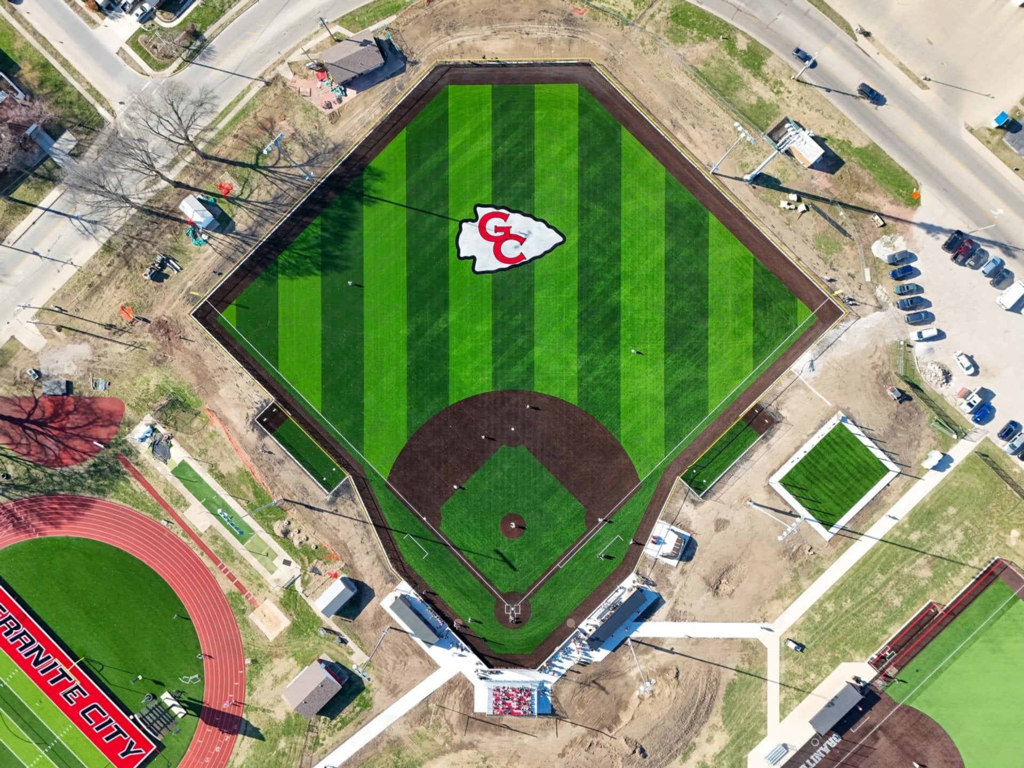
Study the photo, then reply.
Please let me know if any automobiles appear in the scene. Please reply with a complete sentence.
Yes, the image includes an automobile.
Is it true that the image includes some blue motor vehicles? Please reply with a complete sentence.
Yes, I can see a blue motor vehicle in this picture.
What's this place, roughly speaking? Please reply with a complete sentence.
What you see here is a sports ground.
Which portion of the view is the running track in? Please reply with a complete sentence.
You can find the running track in the bottom left area of the picture.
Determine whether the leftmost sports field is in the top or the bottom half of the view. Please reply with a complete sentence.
Seen from above, the leftmost sports field lies in the bottom half of the view.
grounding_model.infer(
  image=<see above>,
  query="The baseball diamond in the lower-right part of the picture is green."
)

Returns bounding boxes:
[785,557,1024,768]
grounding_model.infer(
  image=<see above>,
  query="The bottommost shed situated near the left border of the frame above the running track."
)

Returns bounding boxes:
[43,379,70,395]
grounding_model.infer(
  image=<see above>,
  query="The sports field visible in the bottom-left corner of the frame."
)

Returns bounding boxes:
[0,533,204,768]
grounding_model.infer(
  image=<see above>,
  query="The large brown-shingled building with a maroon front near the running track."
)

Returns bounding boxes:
[284,652,343,719]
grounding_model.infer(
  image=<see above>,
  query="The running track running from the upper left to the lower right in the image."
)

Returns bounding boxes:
[0,493,243,768]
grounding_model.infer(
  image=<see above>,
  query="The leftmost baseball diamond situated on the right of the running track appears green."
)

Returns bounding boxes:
[192,64,841,669]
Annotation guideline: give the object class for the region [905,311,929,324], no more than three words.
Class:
vehicle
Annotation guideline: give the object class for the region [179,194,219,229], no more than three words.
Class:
shed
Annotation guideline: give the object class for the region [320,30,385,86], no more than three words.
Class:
building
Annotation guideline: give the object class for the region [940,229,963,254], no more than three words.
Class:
truck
